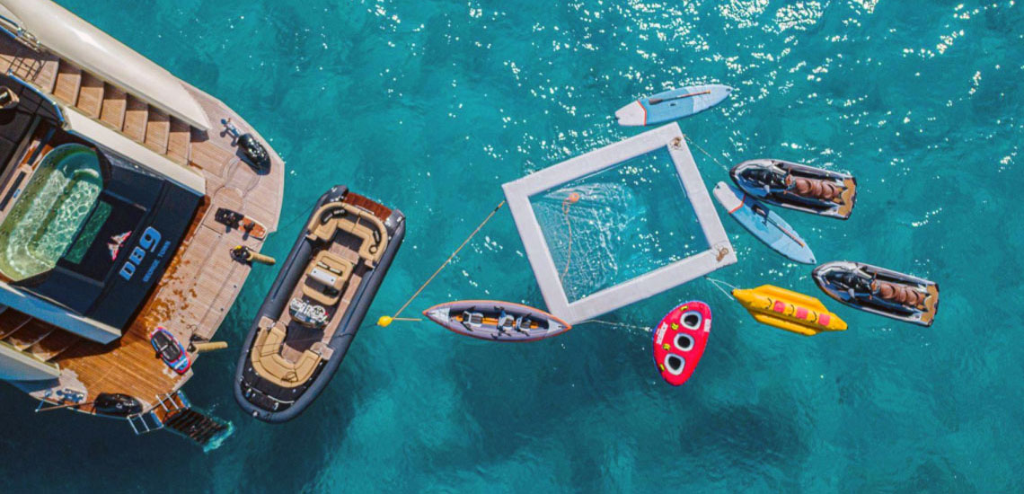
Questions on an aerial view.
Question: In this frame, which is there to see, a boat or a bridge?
boat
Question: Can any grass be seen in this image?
No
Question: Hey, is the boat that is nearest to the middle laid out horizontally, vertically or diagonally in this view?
horizontally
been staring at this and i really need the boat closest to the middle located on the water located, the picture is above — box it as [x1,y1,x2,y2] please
[422,296,573,342]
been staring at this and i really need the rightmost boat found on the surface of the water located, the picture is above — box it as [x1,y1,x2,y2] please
[801,262,936,325]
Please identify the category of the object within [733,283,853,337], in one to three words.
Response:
boat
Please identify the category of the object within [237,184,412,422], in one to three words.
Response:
boat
